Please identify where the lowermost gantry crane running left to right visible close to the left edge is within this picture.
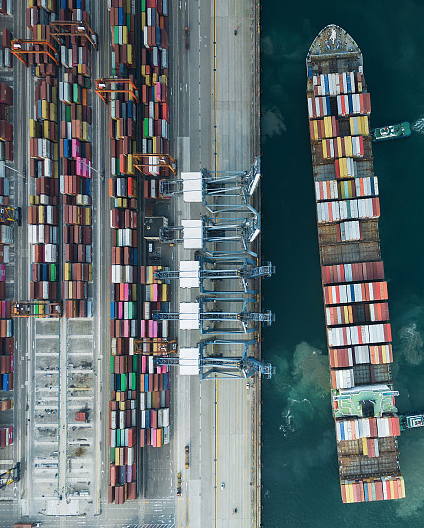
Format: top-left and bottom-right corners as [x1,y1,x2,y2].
[9,298,60,319]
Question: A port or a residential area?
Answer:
port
